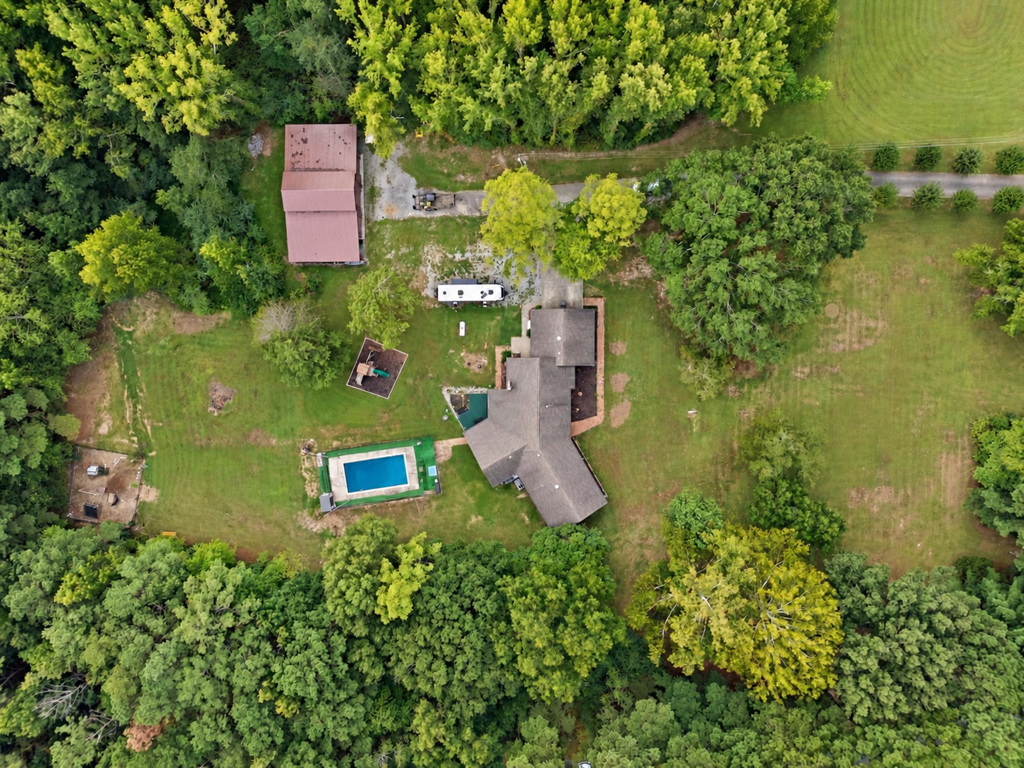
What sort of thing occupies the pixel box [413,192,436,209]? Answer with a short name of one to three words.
work vehicle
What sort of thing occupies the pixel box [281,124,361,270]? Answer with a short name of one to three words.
barn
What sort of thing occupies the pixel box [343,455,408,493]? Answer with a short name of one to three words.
swimming pool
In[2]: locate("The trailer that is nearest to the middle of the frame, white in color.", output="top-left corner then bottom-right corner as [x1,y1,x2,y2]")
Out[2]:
[437,278,511,306]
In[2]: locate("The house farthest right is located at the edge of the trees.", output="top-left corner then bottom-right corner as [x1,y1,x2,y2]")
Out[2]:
[463,309,608,526]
